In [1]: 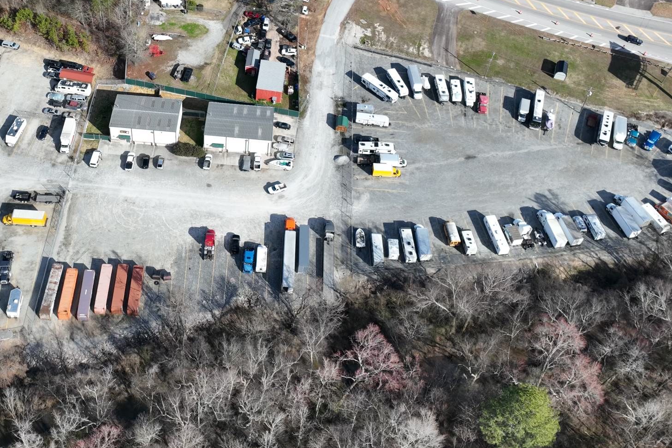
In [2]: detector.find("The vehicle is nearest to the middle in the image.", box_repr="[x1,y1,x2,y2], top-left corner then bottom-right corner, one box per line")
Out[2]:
[324,219,337,242]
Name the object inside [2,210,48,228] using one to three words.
vehicle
